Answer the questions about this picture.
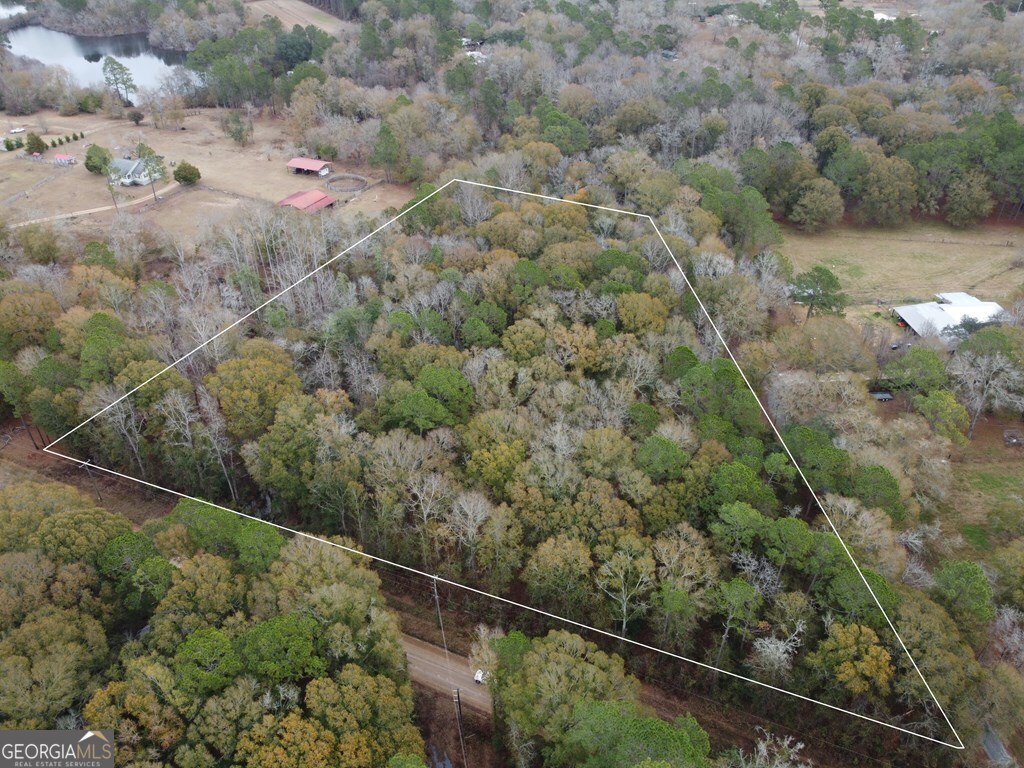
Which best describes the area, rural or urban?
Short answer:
rural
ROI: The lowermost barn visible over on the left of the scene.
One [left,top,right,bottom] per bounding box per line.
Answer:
[274,189,339,224]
